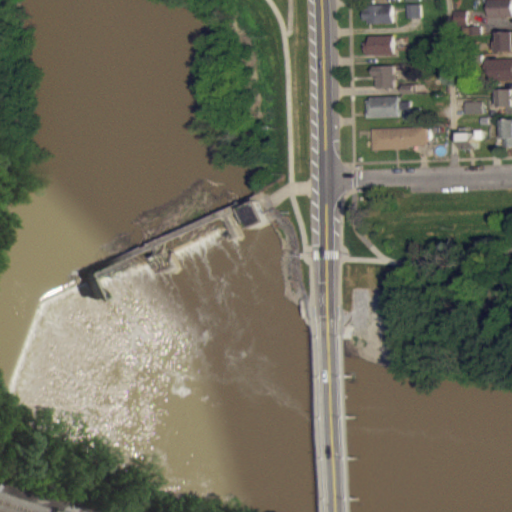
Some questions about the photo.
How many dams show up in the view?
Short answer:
2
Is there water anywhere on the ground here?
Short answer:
Yes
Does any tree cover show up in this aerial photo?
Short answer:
Yes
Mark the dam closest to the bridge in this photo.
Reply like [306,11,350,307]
[80,204,246,300]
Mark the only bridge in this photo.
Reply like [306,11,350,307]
[300,300,362,512]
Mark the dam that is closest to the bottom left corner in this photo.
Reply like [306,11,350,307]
[6,271,80,396]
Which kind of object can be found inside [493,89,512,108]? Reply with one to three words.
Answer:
house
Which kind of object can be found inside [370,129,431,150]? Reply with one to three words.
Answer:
building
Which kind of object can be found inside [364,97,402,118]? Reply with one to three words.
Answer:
house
